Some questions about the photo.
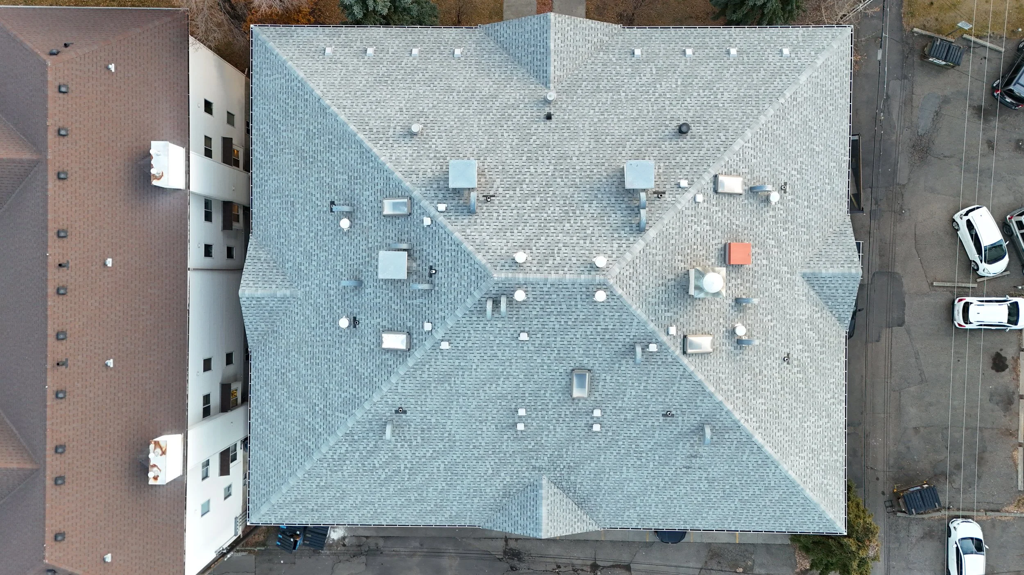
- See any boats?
No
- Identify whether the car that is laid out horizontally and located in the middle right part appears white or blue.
white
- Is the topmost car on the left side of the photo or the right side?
right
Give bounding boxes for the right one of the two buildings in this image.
[239,11,862,539]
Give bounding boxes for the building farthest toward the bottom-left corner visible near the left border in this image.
[0,6,252,575]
